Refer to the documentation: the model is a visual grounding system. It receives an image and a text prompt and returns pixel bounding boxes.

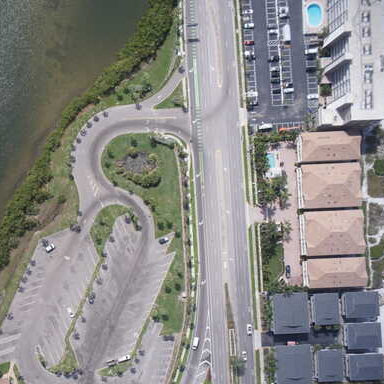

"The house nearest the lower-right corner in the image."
[341,352,383,381]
